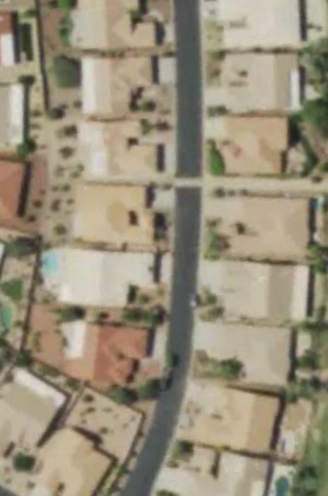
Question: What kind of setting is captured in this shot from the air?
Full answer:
This image shows a residential area.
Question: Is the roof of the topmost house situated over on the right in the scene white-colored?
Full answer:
Yes, the roof of the topmost house situated over on the right is indeed white.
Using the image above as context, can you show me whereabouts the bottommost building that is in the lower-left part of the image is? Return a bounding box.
[37,433,117,496]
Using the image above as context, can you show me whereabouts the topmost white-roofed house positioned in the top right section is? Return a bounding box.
[217,0,297,47]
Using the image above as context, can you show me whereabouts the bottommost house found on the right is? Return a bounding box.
[182,448,266,496]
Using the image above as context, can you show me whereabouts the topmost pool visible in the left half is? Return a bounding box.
[41,251,59,278]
